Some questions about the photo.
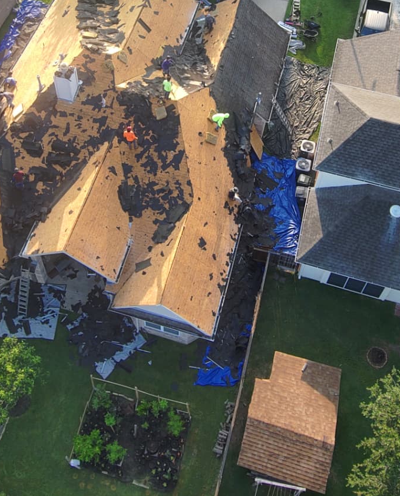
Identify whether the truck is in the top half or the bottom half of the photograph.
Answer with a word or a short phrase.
top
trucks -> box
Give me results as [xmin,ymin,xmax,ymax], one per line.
[355,0,392,35]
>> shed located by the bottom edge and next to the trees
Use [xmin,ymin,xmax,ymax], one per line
[236,357,340,495]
